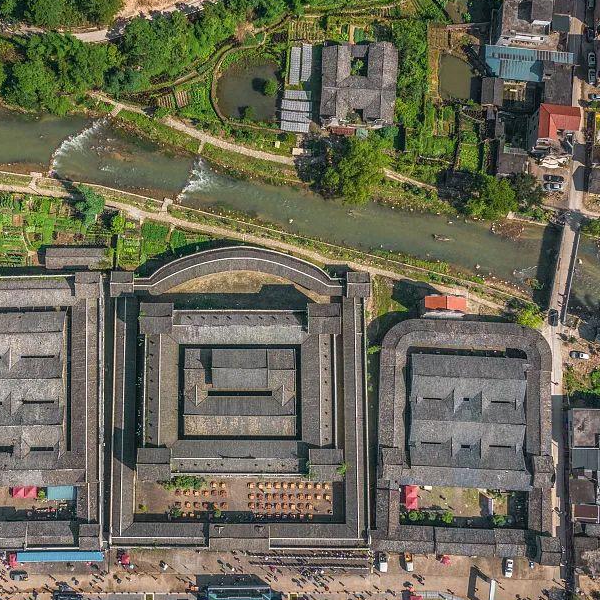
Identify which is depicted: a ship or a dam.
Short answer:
dam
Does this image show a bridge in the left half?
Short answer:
No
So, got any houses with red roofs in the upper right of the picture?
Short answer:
Yes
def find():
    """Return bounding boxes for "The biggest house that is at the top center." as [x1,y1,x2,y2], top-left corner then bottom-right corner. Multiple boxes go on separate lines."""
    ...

[320,42,397,137]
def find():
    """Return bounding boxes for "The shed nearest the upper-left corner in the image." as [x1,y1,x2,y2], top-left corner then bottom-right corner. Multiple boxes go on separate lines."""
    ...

[45,247,106,267]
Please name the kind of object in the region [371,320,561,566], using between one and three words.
building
